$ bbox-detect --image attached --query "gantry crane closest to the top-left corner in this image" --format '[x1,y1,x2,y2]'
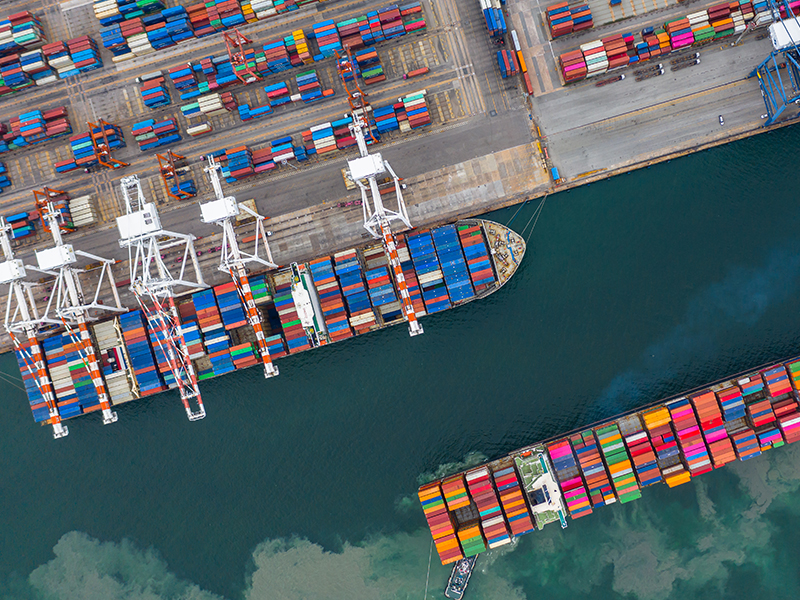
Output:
[86,115,132,170]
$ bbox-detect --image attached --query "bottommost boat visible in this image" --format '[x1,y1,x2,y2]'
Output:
[447,552,481,600]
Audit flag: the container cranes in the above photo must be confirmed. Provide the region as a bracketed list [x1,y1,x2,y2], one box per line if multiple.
[114,171,219,421]
[0,212,91,439]
[345,105,421,338]
[345,89,381,145]
[737,0,800,131]
[332,40,369,99]
[223,25,264,86]
[199,148,288,379]
[35,198,138,425]
[155,147,199,201]
[86,115,132,170]
[31,184,80,236]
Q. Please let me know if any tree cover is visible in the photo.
No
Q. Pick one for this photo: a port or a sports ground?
port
